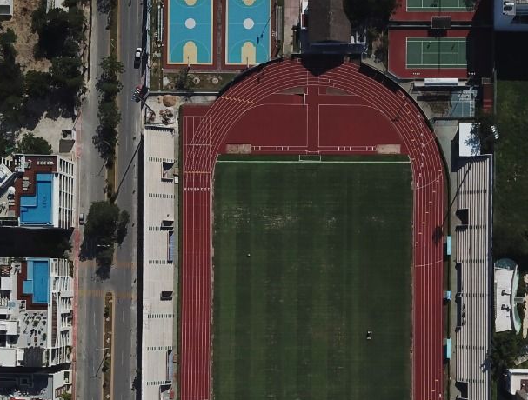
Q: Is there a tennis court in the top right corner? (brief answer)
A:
Yes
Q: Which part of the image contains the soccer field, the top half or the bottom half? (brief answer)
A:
bottom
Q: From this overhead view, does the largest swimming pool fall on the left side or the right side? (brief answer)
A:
left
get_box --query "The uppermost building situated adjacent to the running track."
[302,0,366,52]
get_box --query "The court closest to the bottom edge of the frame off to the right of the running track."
[451,89,476,117]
